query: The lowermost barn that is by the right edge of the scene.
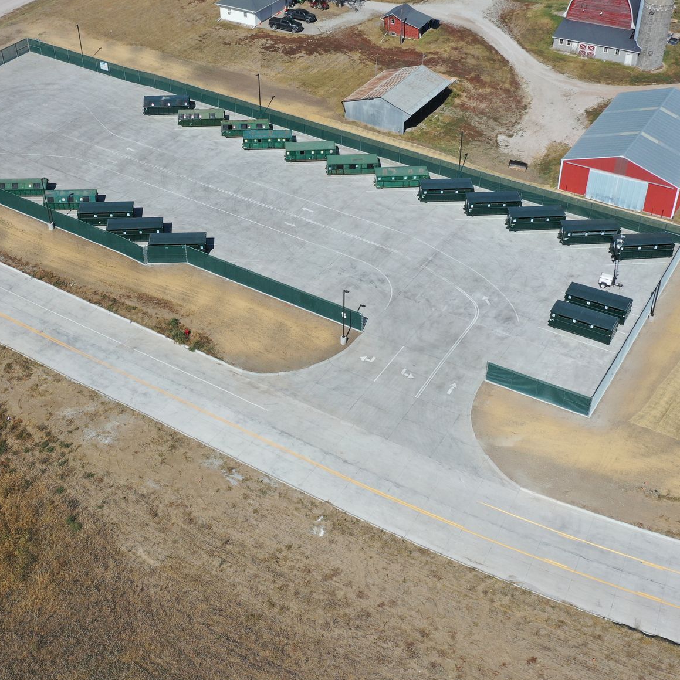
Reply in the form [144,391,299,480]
[558,86,680,220]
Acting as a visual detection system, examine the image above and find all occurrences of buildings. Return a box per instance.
[341,64,453,134]
[379,2,436,37]
[551,0,647,64]
[213,0,294,29]
[558,86,680,220]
